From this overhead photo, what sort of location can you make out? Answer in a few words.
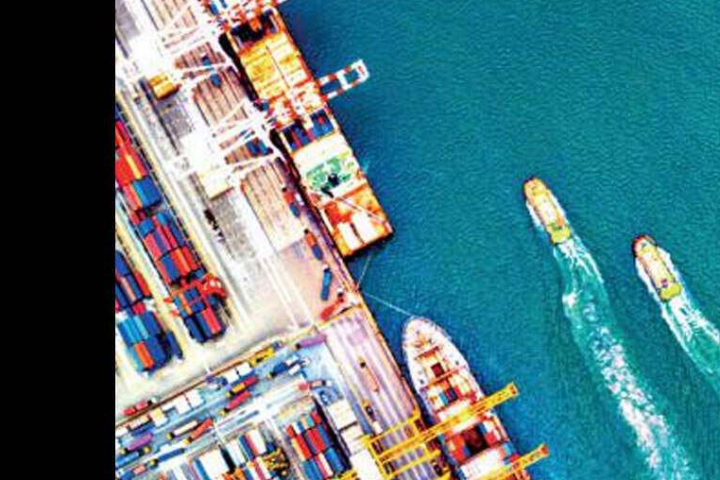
port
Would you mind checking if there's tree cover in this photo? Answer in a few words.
No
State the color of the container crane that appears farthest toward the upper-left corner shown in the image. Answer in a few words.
white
